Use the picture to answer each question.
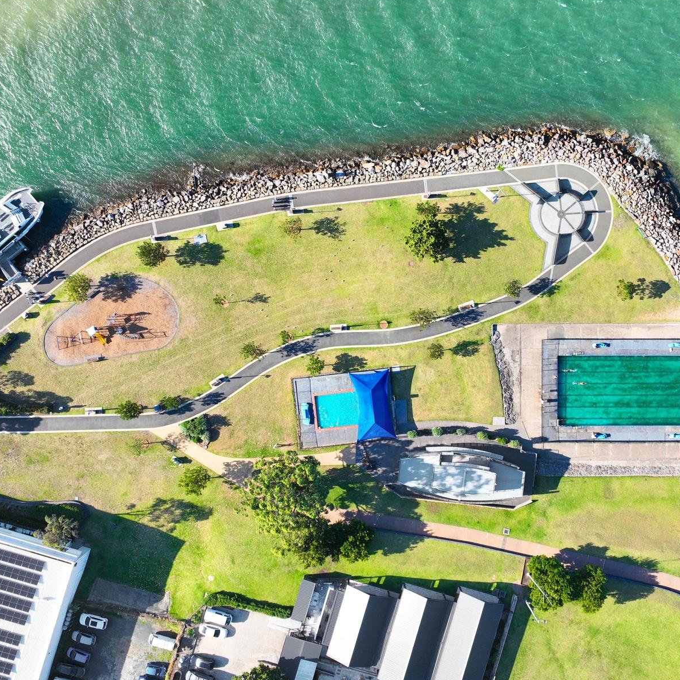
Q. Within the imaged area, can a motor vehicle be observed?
Yes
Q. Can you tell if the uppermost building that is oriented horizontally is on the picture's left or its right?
right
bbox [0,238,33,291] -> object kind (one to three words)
pier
